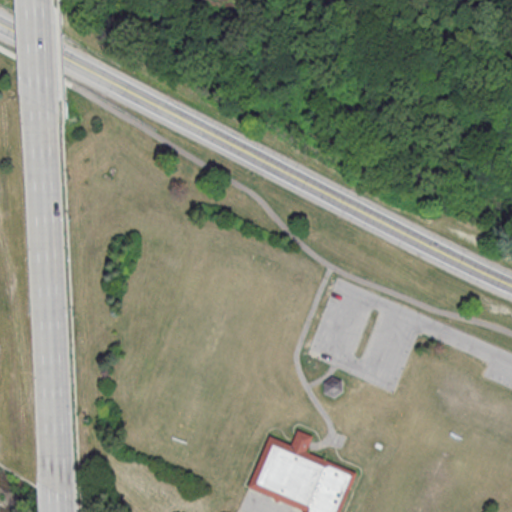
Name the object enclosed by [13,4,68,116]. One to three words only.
overpass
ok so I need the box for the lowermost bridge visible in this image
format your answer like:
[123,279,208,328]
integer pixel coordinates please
[36,456,80,512]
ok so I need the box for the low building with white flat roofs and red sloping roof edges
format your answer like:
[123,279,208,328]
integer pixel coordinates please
[248,430,357,512]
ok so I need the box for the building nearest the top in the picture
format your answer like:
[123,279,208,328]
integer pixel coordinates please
[324,376,344,398]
